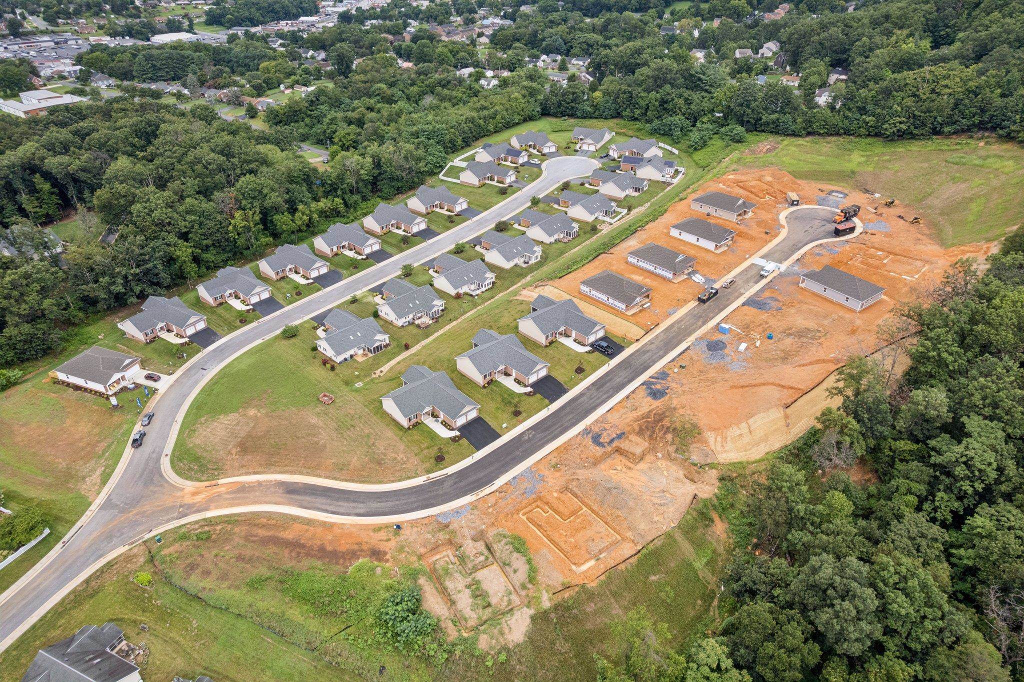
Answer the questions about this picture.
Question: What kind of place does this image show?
residential area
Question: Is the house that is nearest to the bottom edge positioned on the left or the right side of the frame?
left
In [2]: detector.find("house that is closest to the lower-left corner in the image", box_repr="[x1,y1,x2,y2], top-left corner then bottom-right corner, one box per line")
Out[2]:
[30,623,147,682]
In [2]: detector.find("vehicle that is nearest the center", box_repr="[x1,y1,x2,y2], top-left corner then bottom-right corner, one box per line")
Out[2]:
[593,339,616,352]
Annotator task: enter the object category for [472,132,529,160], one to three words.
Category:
house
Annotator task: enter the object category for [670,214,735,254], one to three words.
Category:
house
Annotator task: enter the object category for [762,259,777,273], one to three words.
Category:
vehicle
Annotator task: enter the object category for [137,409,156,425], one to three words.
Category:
car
